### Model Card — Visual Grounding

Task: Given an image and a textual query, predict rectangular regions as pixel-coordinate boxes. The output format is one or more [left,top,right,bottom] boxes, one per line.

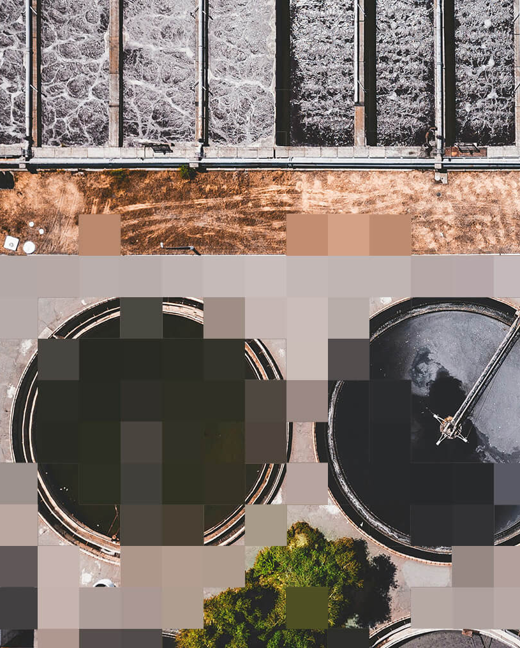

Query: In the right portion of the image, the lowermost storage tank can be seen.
[354,606,520,648]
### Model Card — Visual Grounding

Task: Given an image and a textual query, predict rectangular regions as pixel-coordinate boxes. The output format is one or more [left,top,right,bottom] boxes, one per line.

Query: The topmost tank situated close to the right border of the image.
[314,291,520,568]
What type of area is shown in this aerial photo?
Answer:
industrial area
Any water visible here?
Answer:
Yes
